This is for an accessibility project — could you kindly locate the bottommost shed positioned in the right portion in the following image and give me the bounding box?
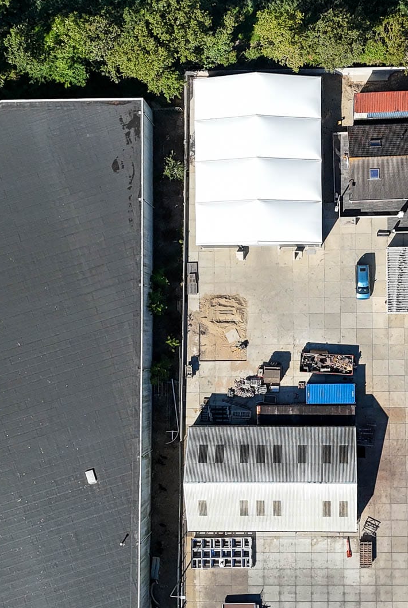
[184,424,359,532]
